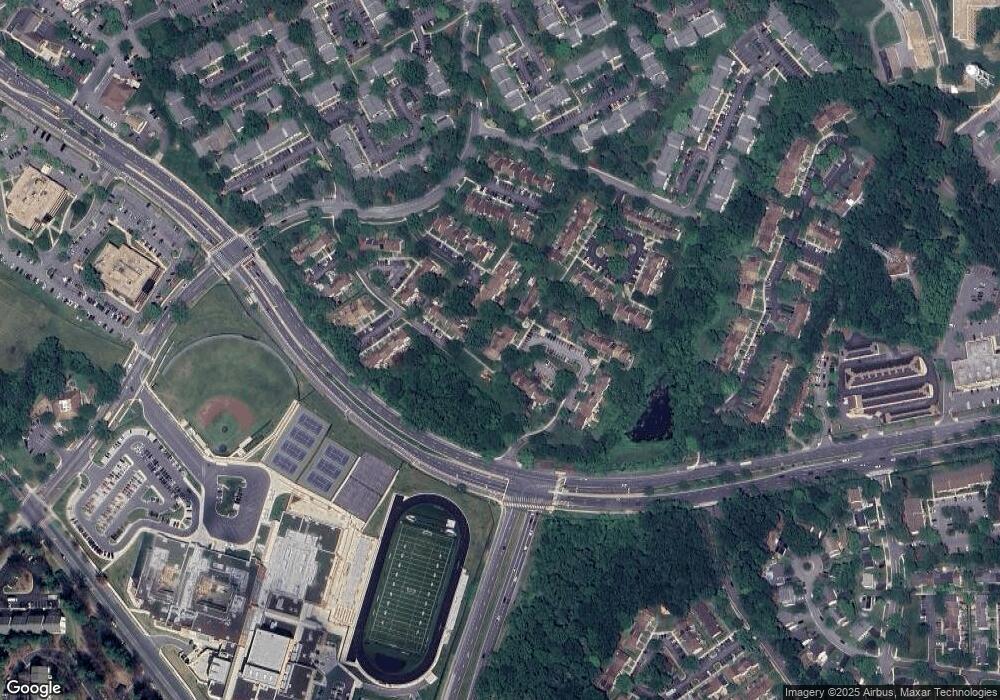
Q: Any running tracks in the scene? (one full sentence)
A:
Yes, the photo shows a running track.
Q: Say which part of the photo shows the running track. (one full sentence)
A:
The running track sits in the bottom section of the image.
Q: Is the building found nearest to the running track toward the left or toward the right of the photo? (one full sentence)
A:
It is on the left.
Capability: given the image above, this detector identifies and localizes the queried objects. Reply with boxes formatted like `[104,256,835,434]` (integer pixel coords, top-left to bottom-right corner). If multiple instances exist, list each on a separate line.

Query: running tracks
[347,494,470,681]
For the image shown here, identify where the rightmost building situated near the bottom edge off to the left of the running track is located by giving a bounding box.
[137,513,359,700]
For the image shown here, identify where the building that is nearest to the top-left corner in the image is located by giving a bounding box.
[9,9,50,48]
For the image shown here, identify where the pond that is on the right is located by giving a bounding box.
[627,384,673,441]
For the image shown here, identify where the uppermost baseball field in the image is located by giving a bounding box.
[152,334,299,461]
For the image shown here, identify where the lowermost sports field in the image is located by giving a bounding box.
[364,503,461,673]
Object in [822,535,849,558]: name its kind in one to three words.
house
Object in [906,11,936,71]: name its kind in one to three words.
building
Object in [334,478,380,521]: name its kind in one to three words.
sports court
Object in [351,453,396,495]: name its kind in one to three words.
sports court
